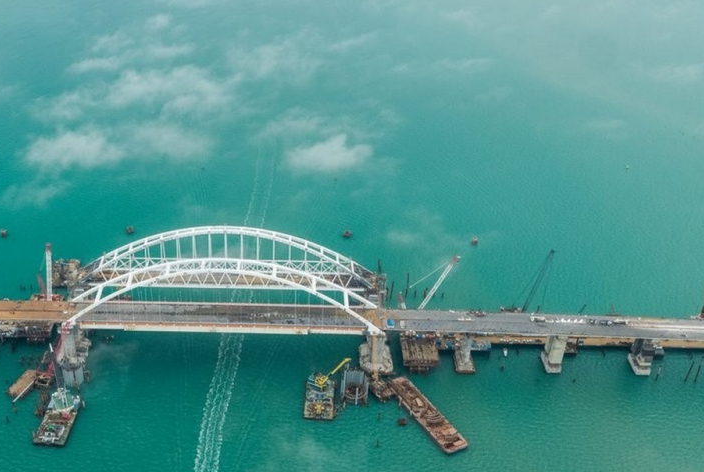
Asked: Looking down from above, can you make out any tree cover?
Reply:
No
